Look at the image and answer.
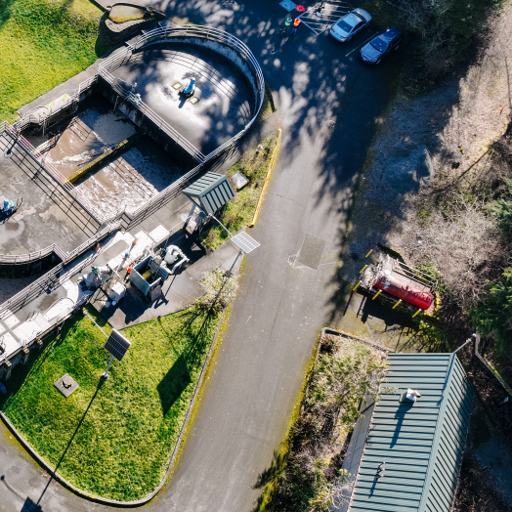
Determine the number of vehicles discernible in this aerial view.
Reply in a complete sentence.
In total, there are 2 vehicles in the scene.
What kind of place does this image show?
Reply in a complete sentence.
The picture captures an industrial area.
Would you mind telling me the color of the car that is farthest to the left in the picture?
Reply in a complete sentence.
The car that is farthest to the left looks blue in the image.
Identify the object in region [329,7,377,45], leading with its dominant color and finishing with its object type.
blue car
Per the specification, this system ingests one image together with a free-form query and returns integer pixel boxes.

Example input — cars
[329,7,377,45]
[359,20,407,66]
